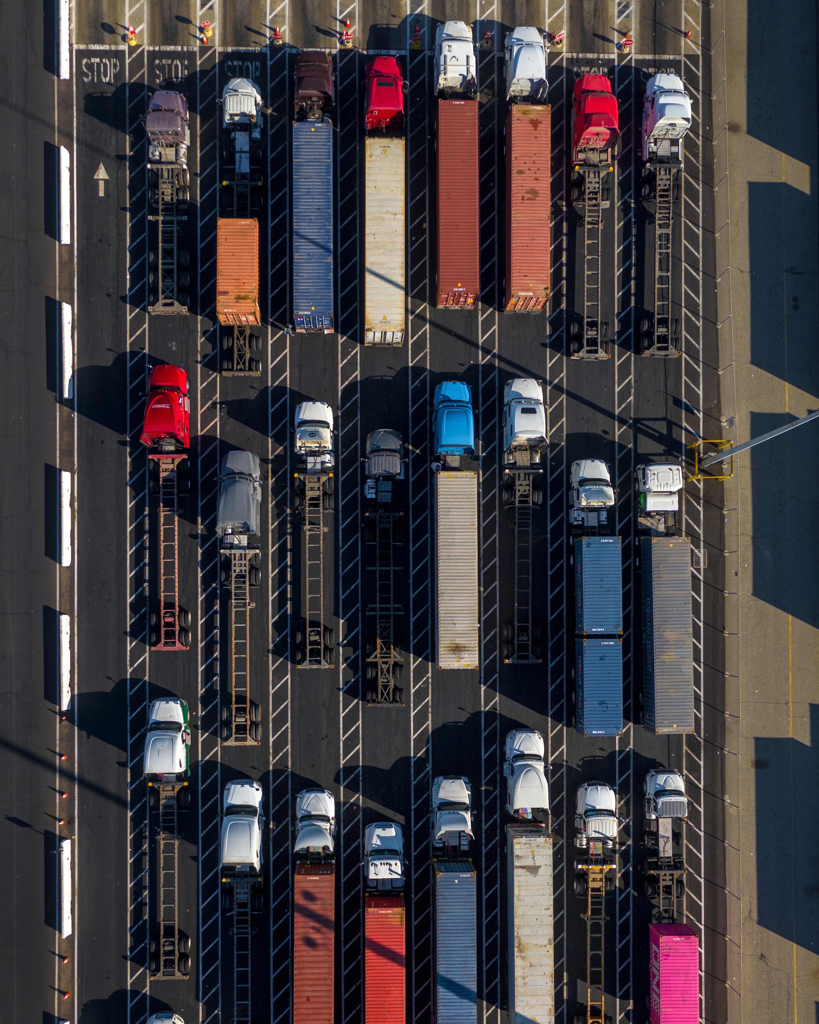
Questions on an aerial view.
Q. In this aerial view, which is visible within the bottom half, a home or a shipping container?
shipping container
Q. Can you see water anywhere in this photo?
No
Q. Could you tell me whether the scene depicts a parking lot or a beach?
parking lot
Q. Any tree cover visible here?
No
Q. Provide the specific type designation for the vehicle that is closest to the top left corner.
truck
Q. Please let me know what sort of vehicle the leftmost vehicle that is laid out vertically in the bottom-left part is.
truck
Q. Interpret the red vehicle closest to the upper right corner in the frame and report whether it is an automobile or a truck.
truck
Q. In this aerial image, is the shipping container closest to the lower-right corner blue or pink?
pink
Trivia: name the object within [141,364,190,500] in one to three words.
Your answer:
truck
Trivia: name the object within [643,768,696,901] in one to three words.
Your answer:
truck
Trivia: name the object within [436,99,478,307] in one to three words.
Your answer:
shipping container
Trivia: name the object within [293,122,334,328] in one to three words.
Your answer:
shipping container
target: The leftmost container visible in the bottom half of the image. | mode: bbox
[295,864,335,1024]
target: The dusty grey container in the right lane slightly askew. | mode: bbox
[641,537,696,735]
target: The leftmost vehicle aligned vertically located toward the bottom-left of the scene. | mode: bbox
[141,695,190,821]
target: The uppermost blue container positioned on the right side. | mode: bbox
[574,536,621,634]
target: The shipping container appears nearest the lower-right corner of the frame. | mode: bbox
[648,923,698,1024]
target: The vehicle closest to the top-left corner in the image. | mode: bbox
[141,91,190,213]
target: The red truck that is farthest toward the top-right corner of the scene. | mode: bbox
[572,74,622,212]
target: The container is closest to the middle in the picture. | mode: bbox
[435,471,477,669]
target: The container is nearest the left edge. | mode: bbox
[218,218,262,326]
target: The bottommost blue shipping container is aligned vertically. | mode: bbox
[434,862,476,1024]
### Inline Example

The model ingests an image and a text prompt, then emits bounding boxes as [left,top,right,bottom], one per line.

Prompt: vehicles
[502,377,550,513]
[642,74,695,210]
[141,91,190,213]
[141,364,190,500]
[503,727,552,861]
[432,19,480,144]
[574,779,624,907]
[290,51,338,133]
[289,400,338,516]
[634,459,686,566]
[430,380,479,514]
[430,772,478,893]
[291,786,339,862]
[361,55,409,137]
[145,1007,187,1024]
[569,457,619,574]
[217,79,265,229]
[503,25,551,147]
[361,428,409,557]
[643,768,696,901]
[217,777,265,918]
[214,449,263,592]
[141,695,190,821]
[572,74,622,212]
[361,820,409,897]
